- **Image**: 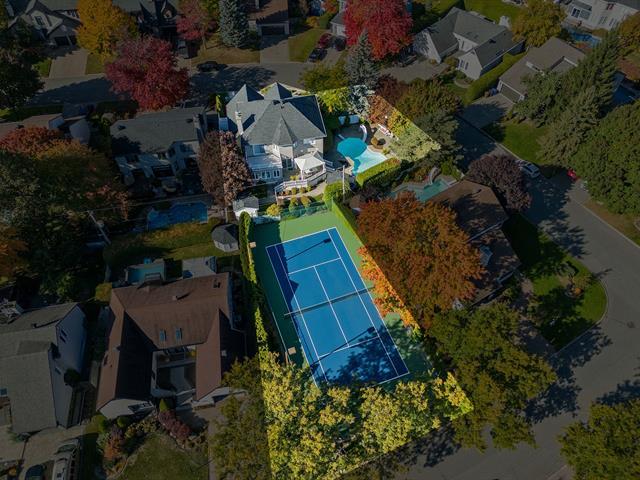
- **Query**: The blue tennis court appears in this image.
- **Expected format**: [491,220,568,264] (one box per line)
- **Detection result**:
[249,199,453,460]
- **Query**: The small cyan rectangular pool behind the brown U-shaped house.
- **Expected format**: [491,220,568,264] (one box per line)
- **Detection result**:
[126,261,168,286]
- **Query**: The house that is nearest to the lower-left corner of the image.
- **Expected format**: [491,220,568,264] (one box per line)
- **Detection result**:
[0,304,92,436]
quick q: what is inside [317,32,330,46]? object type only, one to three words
vehicle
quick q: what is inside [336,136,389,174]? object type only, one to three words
swimming pool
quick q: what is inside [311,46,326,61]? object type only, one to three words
car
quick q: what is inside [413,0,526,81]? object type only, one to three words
house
